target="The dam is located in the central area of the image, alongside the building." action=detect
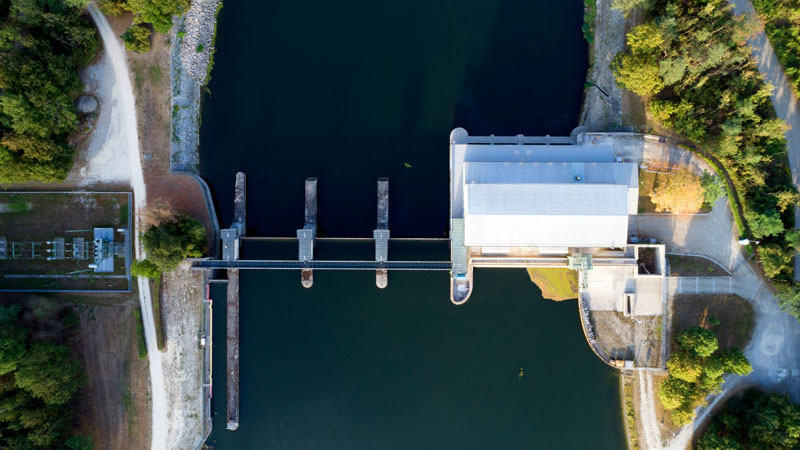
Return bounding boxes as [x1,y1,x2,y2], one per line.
[222,172,448,289]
